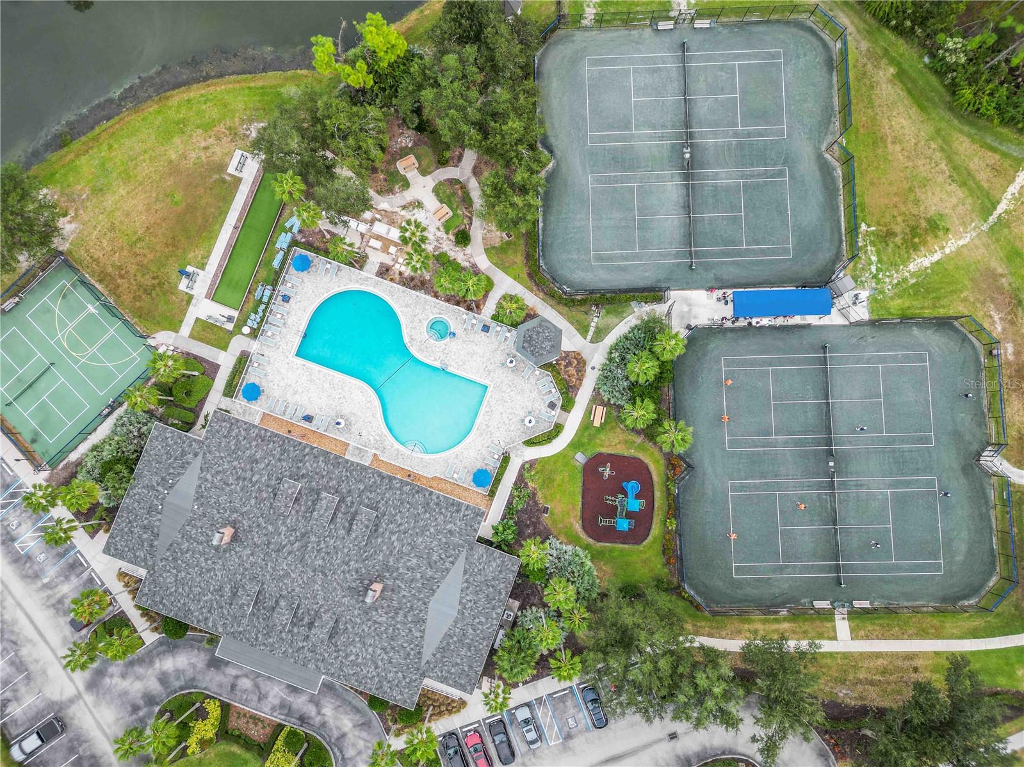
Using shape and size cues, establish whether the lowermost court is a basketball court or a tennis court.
tennis court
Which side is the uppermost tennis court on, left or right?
right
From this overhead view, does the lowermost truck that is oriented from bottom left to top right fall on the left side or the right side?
left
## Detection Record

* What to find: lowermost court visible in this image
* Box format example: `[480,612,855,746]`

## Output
[682,459,998,608]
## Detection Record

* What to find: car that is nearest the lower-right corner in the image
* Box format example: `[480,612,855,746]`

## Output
[581,684,610,732]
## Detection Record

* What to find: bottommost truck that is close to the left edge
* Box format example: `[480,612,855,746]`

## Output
[14,715,65,759]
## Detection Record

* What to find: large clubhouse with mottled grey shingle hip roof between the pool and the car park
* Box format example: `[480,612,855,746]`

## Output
[103,409,520,711]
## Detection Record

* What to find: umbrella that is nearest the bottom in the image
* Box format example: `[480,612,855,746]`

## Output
[472,468,492,488]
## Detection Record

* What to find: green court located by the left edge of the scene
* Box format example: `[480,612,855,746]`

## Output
[0,257,150,470]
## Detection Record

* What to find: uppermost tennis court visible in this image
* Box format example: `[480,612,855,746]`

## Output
[538,21,838,155]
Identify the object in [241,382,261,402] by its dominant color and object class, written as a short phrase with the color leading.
blue umbrella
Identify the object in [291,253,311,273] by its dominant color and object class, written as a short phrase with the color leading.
blue umbrella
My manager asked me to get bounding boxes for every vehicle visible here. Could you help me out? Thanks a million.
[464,729,492,767]
[14,715,65,759]
[514,704,542,751]
[488,717,517,764]
[581,684,610,732]
[440,732,468,767]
